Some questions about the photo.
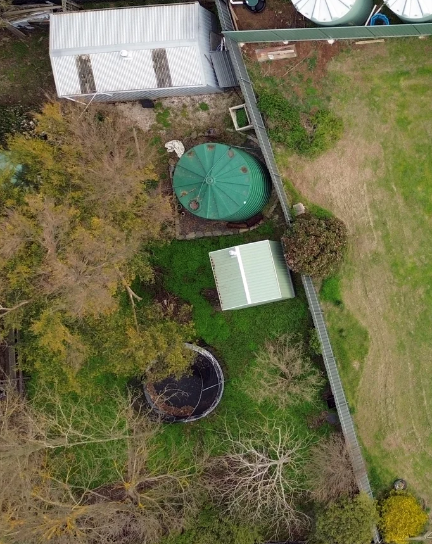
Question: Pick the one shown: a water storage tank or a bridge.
water storage tank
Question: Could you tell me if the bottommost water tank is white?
No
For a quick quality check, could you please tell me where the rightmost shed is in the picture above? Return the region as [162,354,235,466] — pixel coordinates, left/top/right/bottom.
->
[209,239,292,311]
